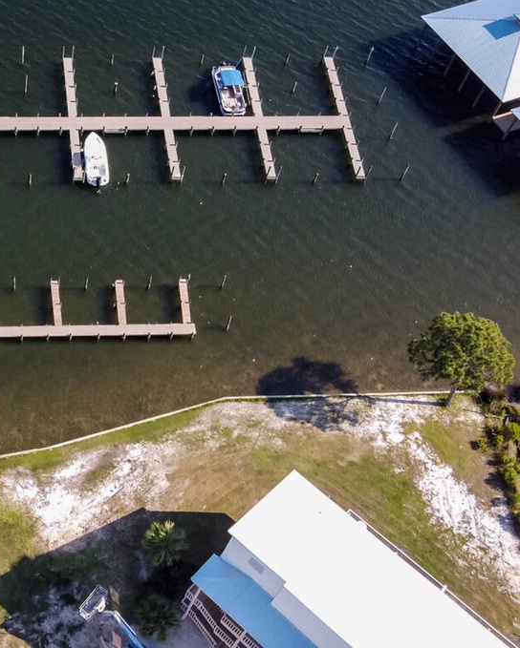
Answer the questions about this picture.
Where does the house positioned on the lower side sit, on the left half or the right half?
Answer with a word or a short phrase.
right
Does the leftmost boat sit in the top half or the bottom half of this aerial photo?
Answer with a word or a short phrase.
top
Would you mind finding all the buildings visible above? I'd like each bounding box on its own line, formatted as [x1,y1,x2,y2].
[418,0,520,143]
[178,470,520,648]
